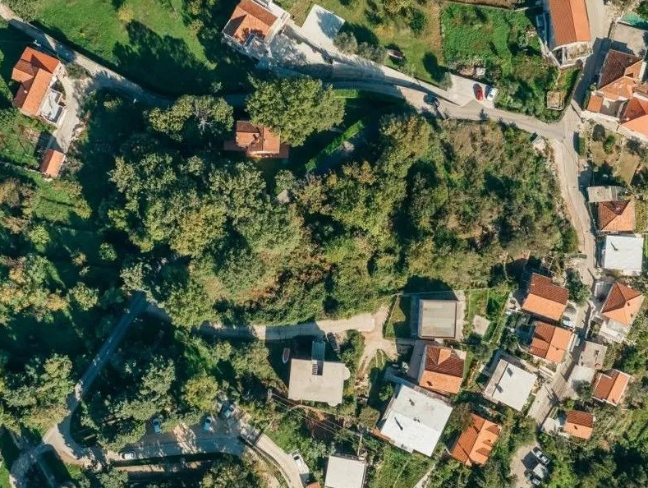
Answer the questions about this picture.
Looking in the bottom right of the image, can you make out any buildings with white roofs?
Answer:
Yes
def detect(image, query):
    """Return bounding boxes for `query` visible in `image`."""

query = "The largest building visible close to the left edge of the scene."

[12,46,67,122]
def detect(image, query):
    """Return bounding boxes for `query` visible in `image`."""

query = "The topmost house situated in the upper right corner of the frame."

[539,0,594,68]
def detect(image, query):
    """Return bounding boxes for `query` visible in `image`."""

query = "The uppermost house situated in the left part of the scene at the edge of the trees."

[223,0,291,61]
